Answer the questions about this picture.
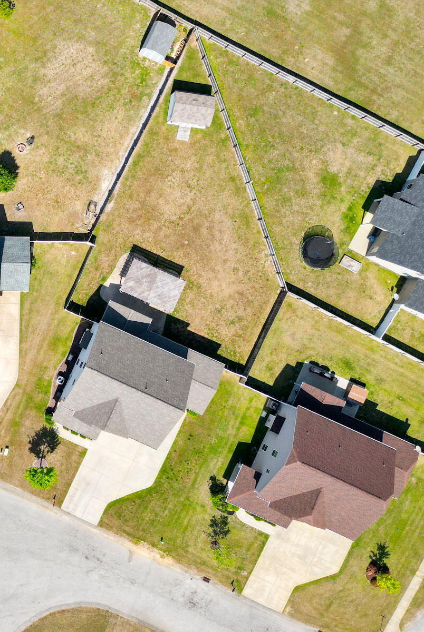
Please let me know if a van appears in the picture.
No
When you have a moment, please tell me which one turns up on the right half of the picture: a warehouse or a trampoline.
trampoline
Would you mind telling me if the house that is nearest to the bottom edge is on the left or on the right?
right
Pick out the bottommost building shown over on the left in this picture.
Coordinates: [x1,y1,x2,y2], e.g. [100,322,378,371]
[51,300,225,451]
